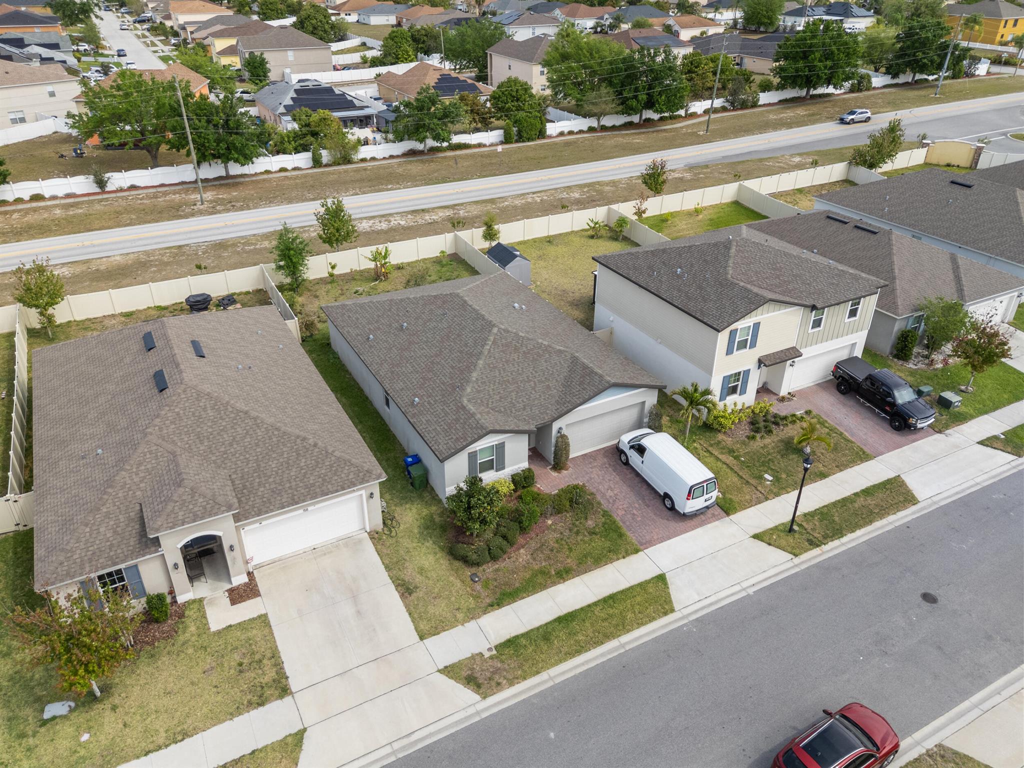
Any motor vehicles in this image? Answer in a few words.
Yes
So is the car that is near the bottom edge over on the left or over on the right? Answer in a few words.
right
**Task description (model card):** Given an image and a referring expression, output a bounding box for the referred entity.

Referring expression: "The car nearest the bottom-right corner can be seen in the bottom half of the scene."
[763,700,902,768]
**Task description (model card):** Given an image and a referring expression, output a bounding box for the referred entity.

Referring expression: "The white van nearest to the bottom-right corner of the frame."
[612,431,727,518]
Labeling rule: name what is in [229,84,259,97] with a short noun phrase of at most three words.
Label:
vehicle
